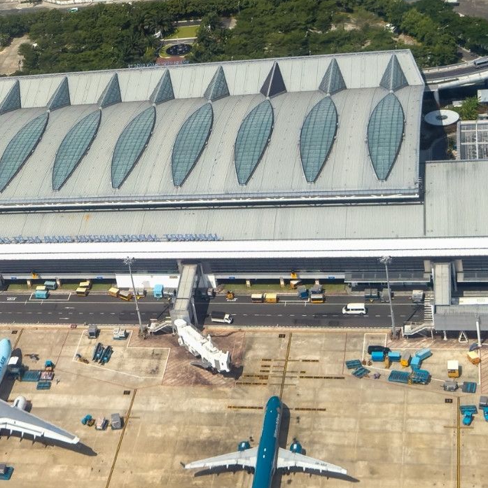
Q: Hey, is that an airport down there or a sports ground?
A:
airport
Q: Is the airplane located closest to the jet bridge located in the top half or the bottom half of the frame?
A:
bottom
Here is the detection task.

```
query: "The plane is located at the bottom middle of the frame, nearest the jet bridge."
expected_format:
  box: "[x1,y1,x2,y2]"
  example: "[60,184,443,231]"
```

[181,397,346,488]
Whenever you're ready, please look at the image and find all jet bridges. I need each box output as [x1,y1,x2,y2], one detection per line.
[171,318,239,380]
